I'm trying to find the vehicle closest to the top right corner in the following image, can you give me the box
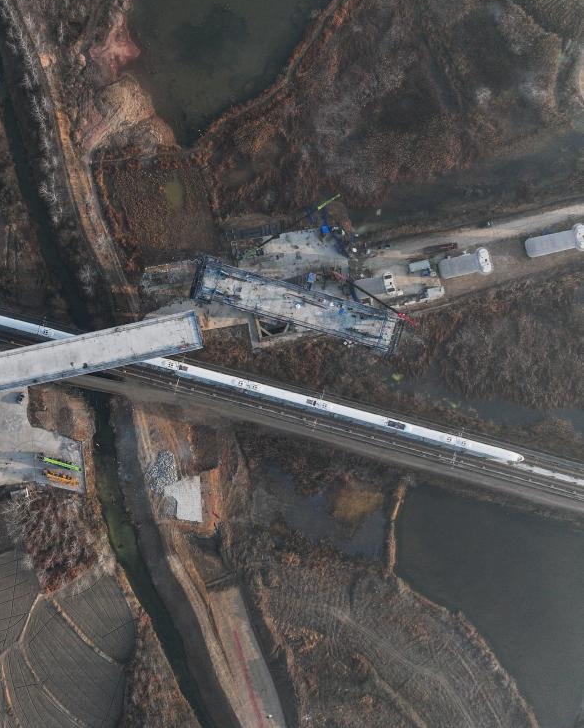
[426,241,461,254]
